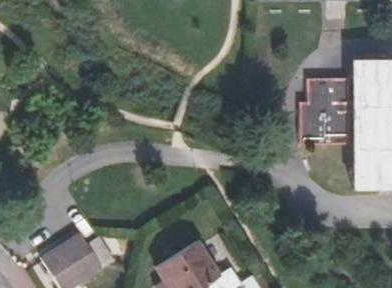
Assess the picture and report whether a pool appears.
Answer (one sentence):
No, I can't see a single pool in this photo.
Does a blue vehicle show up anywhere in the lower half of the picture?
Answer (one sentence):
No, there's no blue vehicle to be seen in the lower half of the picture.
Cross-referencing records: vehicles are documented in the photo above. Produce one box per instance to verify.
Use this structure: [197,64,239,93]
[66,208,94,240]
[29,230,50,249]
